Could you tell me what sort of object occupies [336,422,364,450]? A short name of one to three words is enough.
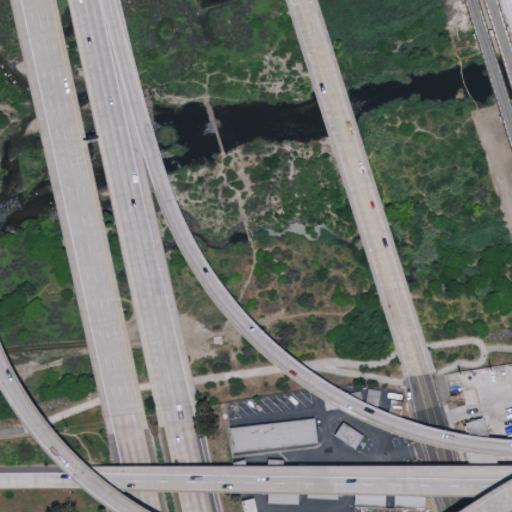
building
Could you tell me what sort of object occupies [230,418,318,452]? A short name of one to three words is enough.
building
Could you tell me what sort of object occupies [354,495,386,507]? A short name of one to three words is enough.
shed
